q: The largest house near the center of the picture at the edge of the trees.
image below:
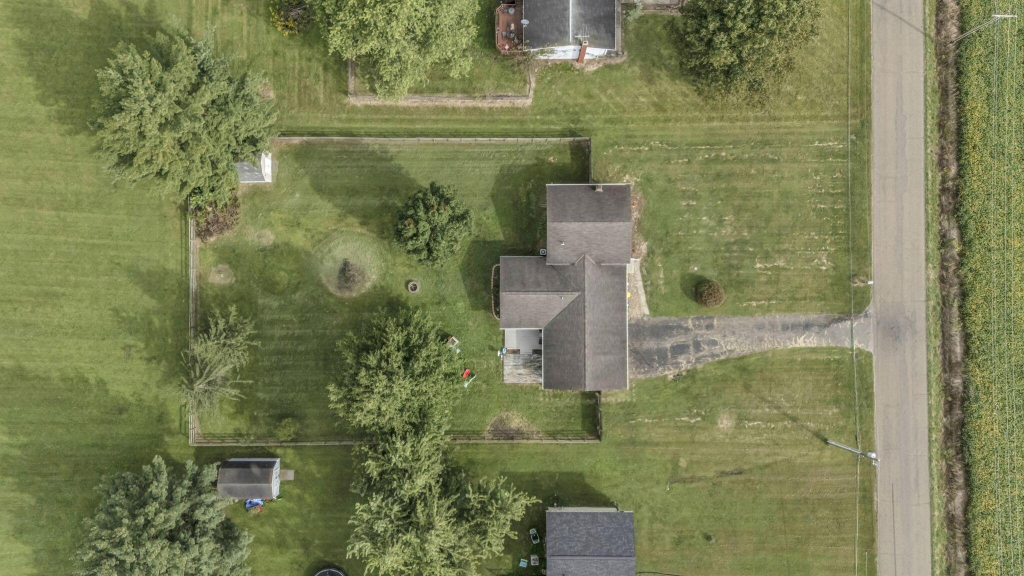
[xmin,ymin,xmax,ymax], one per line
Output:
[500,182,640,391]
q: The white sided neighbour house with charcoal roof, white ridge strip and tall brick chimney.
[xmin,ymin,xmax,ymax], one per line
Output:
[523,0,616,64]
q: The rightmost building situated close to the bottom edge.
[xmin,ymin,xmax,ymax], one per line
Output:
[546,503,636,576]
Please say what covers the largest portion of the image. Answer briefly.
grass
